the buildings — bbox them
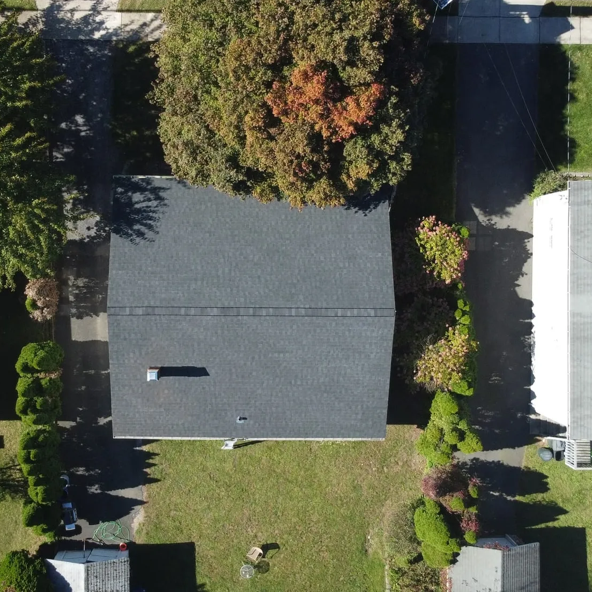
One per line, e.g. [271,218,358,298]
[106,174,396,449]
[442,533,540,592]
[534,179,592,442]
[46,544,133,592]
